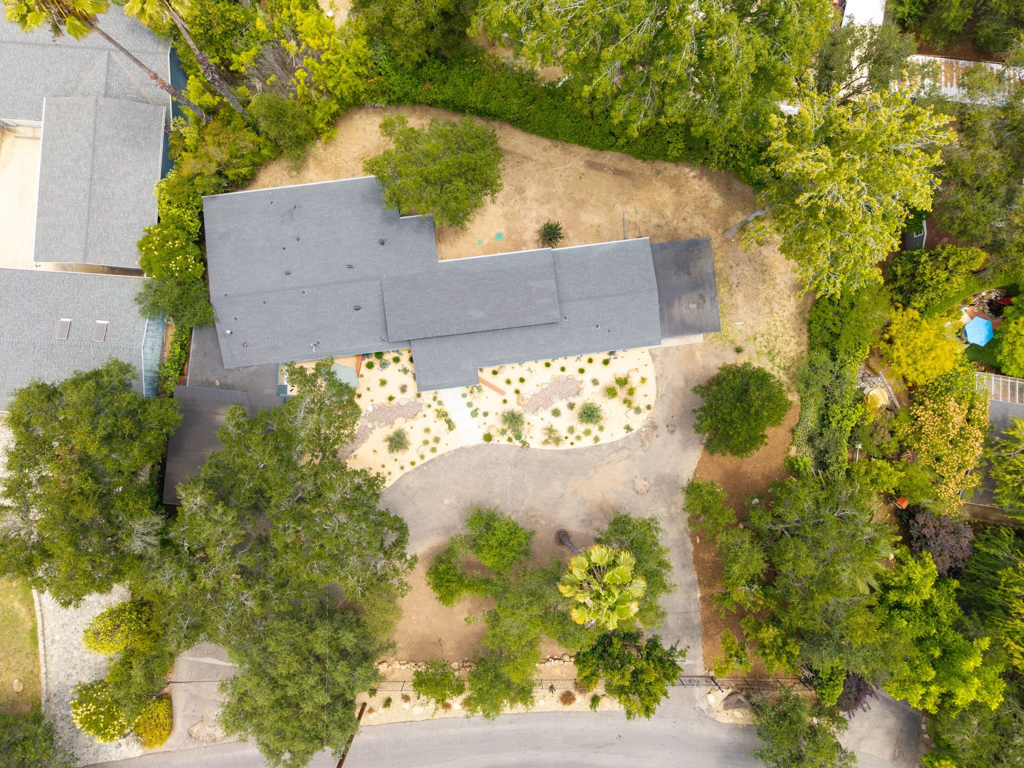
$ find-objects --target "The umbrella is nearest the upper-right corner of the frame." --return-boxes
[964,316,992,344]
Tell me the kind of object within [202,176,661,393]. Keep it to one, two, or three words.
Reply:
house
